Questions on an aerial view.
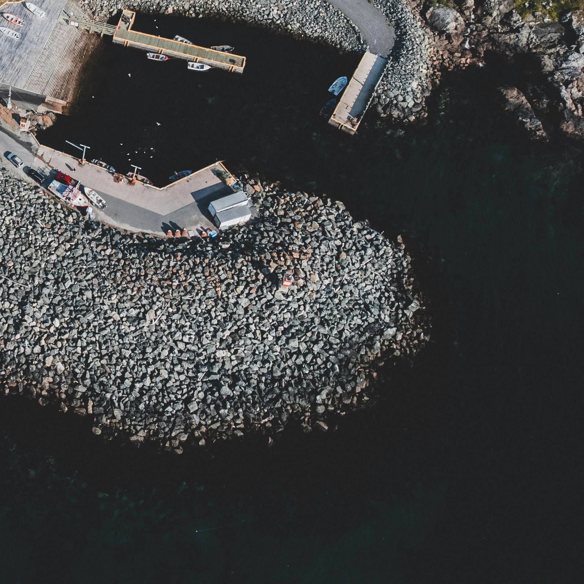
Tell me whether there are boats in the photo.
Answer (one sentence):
Yes, the frame does contain a boat.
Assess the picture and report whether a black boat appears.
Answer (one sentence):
Yes, the picture does show a black boat.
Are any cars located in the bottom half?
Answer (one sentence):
No, no car appears in the bottom half.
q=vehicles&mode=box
[25,165,47,182]
[55,170,82,187]
[5,149,26,167]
